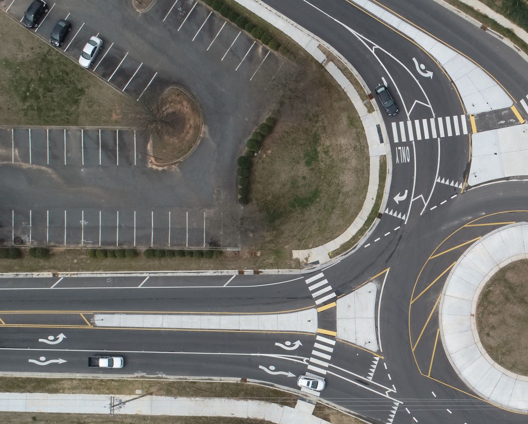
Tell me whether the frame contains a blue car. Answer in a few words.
No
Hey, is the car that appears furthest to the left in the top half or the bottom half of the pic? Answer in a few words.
top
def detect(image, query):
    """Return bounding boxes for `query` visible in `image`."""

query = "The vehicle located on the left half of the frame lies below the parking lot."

[87,356,126,369]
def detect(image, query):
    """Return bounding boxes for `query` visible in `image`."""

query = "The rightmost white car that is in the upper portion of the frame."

[77,36,102,67]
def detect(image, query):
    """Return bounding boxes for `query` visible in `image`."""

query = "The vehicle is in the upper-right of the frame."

[376,85,398,117]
